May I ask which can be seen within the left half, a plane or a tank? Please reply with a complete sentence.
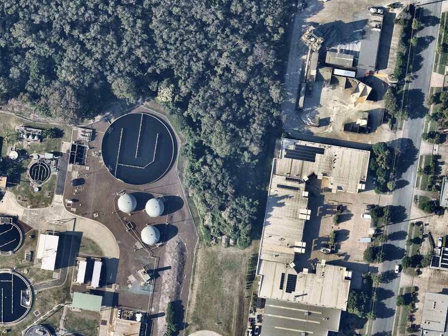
Visible within the left half is a tank.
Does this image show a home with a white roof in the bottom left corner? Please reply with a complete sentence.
Yes, a home with a white roof can be seen in the bottom left corner.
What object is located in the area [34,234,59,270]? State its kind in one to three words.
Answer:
house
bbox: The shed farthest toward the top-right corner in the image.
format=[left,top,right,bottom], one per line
[354,15,383,71]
